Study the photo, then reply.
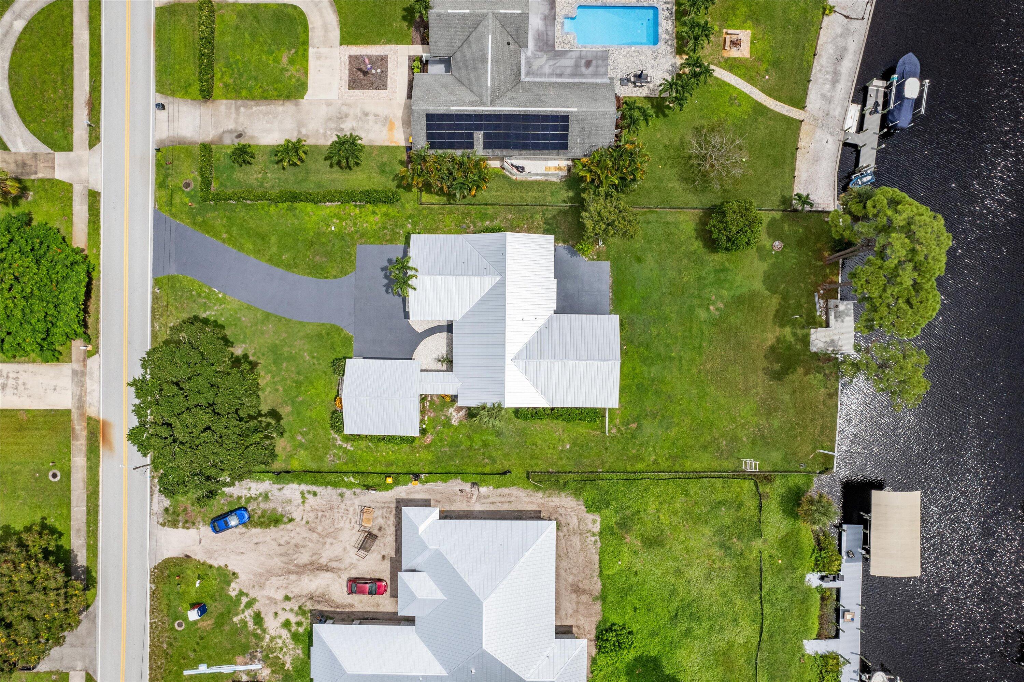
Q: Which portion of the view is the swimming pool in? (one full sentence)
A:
The swimming pool sits in the top section of the image.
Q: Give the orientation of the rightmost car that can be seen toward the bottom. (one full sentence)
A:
The rightmost car that can be seen toward the bottom has been laid out horizontally relative to the frame.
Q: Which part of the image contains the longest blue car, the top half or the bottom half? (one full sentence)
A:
Seen from above, the longest blue car lies in the bottom half of the view.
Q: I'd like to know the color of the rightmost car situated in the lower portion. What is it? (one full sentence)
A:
In this view, the rightmost car situated in the lower portion is red.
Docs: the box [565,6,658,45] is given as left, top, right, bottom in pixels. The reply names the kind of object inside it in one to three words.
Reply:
swimming pool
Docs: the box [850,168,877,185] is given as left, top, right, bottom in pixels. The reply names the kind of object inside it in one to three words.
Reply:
boat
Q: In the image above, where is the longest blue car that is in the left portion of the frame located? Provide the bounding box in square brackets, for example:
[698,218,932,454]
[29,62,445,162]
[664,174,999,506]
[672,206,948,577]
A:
[209,507,250,535]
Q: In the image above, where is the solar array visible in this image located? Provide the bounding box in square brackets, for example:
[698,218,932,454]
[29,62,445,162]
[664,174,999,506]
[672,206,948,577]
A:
[426,113,569,149]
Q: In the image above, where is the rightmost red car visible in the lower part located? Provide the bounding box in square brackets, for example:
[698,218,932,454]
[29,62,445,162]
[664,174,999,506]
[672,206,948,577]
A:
[347,576,388,597]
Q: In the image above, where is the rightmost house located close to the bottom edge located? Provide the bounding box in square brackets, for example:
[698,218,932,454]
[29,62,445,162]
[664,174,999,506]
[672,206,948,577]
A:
[313,506,588,682]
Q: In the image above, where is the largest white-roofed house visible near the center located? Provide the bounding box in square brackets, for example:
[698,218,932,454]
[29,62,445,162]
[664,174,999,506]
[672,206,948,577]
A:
[409,231,621,410]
